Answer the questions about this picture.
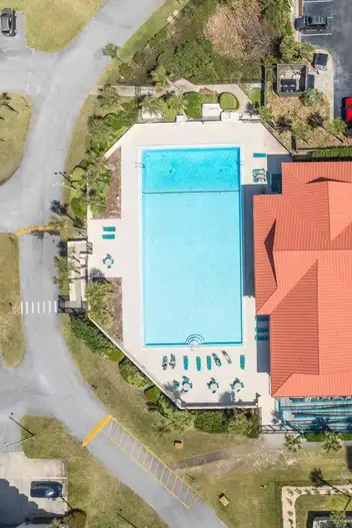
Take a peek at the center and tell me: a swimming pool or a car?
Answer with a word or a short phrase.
swimming pool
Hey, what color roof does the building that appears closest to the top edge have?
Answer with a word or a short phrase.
red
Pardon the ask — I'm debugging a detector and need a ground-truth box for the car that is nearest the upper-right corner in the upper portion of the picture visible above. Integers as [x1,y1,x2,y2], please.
[295,14,328,32]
